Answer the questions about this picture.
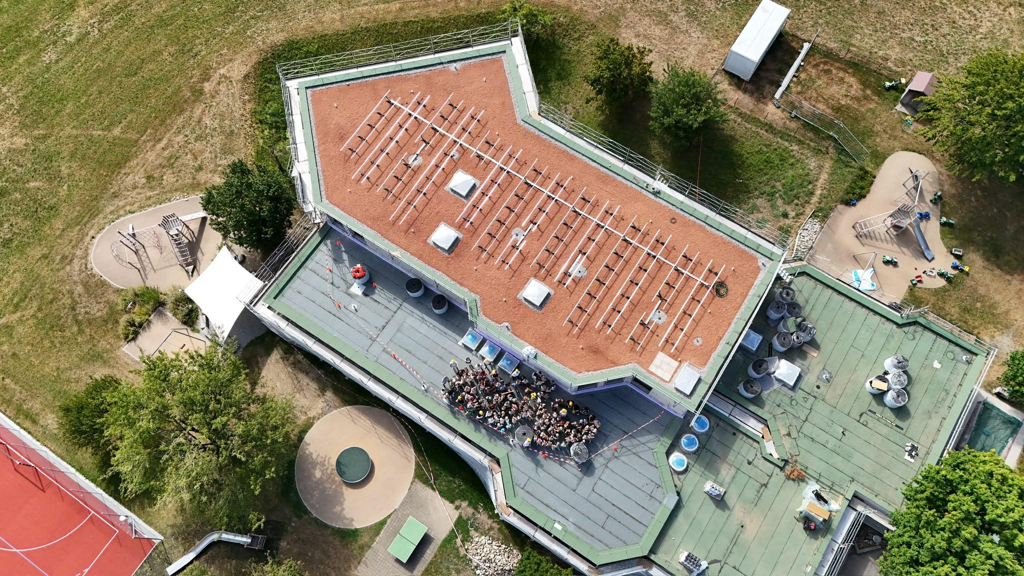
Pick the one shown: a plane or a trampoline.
trampoline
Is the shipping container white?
Yes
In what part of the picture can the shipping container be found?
top right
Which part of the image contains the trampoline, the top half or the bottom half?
bottom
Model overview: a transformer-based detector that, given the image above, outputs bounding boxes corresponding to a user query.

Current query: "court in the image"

[0,433,155,576]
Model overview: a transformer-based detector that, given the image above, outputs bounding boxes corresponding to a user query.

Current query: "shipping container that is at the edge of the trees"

[721,0,791,82]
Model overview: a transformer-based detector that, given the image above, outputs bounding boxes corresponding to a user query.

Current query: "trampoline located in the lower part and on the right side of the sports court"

[335,446,372,484]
